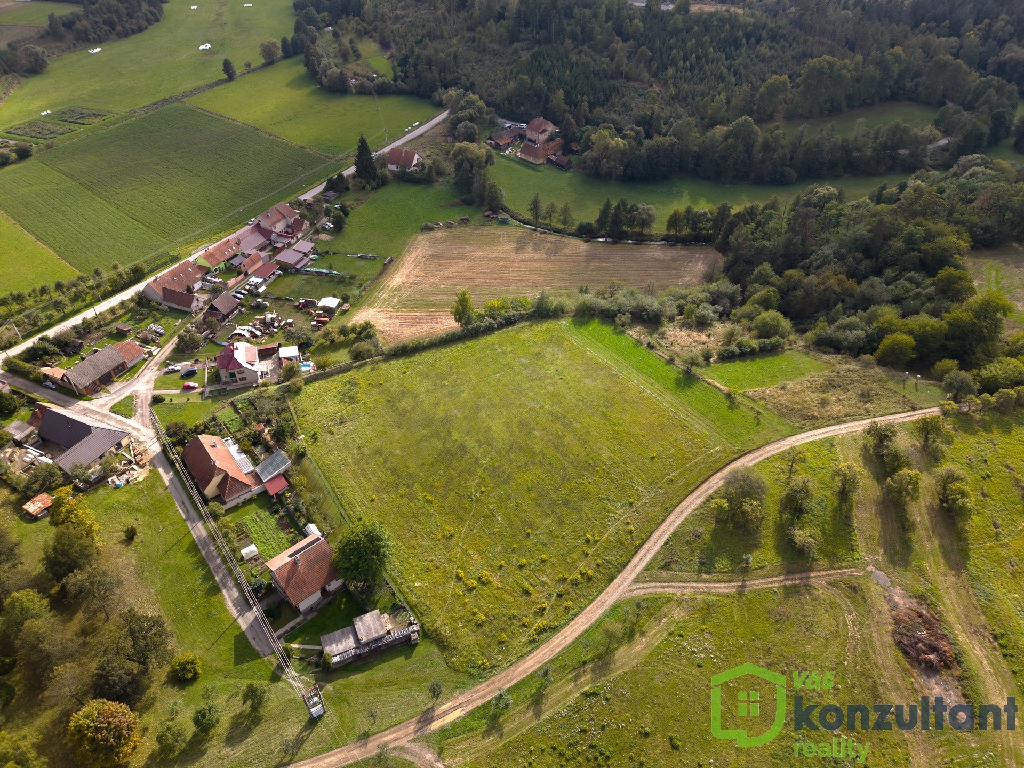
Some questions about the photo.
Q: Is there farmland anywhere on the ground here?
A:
Yes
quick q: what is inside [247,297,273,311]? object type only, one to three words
work vehicle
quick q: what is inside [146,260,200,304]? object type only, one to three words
house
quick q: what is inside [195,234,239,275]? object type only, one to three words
building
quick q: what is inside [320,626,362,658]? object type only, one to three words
shed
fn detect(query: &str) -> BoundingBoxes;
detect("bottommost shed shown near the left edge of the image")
[22,492,54,520]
